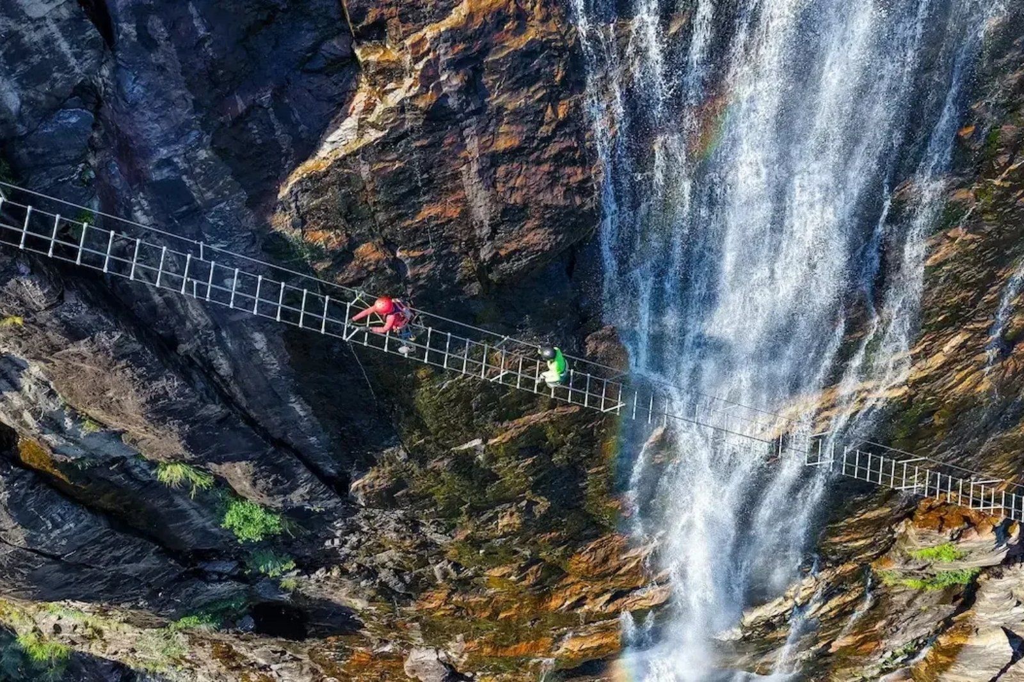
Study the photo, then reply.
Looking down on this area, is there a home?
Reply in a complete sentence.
No, no home can be seen from above.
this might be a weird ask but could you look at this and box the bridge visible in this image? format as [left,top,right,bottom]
[0,182,1024,523]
